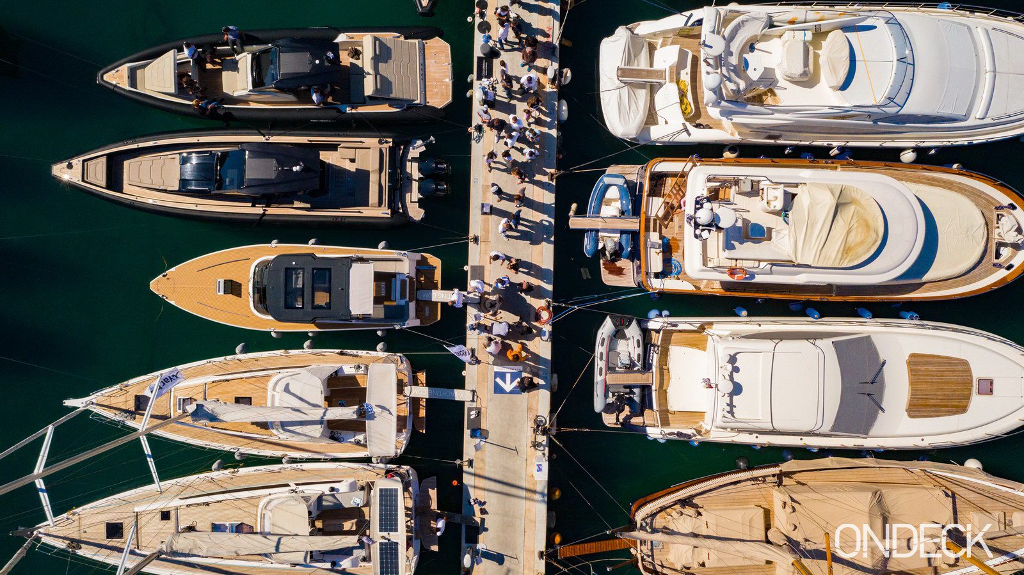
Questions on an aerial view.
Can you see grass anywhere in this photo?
No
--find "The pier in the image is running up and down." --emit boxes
[461,0,560,575]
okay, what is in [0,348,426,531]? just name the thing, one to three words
boat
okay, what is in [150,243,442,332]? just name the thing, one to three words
boat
